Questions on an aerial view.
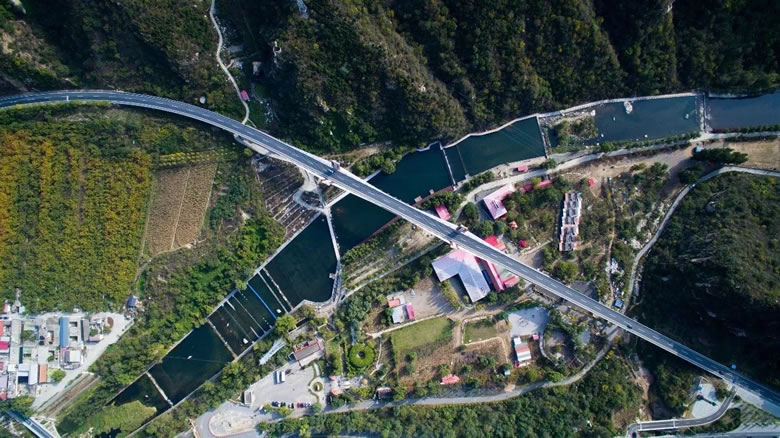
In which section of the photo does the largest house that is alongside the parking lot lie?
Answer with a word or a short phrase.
bottom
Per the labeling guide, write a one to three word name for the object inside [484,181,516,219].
building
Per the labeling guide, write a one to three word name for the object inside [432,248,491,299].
building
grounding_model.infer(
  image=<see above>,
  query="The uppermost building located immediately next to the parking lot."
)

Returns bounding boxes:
[292,336,327,365]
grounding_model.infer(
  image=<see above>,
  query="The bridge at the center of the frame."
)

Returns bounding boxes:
[110,90,726,377]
